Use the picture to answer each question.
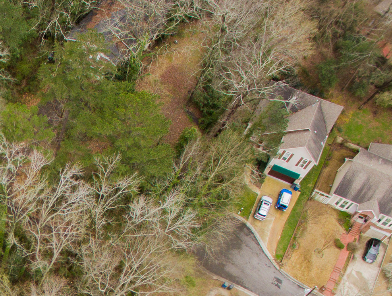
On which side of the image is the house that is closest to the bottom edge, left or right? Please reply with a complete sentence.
You can find the house that is closest to the bottom edge on the right side of the picture.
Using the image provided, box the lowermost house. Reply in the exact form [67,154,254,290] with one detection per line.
[306,131,392,235]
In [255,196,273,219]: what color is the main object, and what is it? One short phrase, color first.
white car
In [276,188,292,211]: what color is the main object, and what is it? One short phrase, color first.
white car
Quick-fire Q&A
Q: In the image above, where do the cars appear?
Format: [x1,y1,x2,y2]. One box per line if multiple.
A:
[364,239,379,262]
[255,196,273,219]
[276,188,292,211]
